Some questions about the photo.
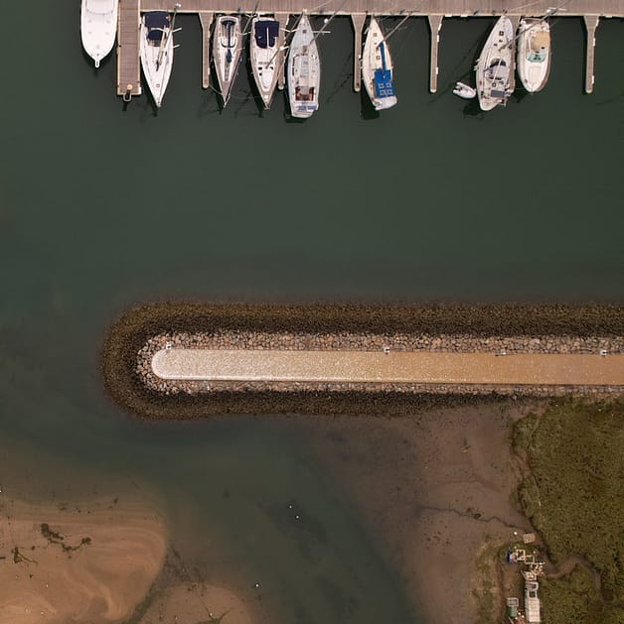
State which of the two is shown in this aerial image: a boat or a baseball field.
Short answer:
boat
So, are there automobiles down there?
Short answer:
No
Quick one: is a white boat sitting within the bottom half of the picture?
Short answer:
No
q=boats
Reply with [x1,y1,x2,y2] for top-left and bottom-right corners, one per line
[476,0,574,116]
[212,1,260,107]
[80,0,117,67]
[449,81,476,97]
[285,0,346,121]
[249,6,306,108]
[513,18,551,92]
[141,0,183,107]
[363,0,429,112]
